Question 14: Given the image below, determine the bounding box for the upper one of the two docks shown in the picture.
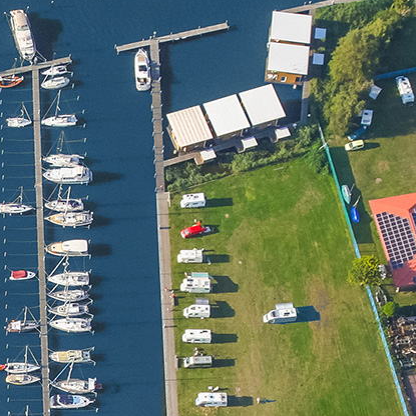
[116,21,230,191]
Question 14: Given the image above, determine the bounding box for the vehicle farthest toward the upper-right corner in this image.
[396,79,413,108]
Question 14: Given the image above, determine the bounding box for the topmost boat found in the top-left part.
[10,8,35,59]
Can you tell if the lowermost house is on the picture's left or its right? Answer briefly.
right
